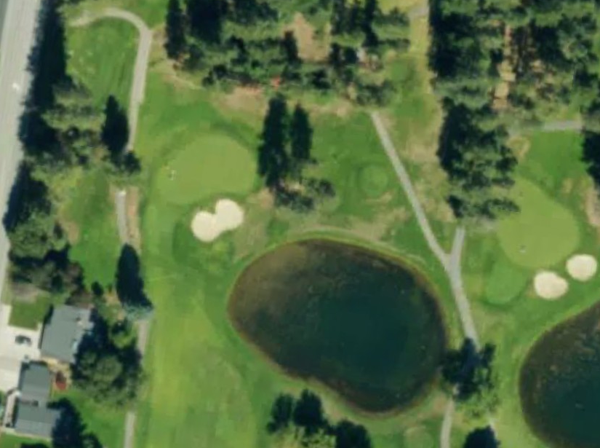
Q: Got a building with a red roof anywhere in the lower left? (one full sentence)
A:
No, the scene shows no building with a red roof in the lower left.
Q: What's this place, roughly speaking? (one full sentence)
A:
This looks like a golf course.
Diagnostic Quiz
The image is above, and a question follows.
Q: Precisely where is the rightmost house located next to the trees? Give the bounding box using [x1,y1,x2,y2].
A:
[42,302,89,360]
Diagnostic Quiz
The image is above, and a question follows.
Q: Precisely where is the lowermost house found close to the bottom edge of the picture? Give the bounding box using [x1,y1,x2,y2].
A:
[14,362,60,437]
